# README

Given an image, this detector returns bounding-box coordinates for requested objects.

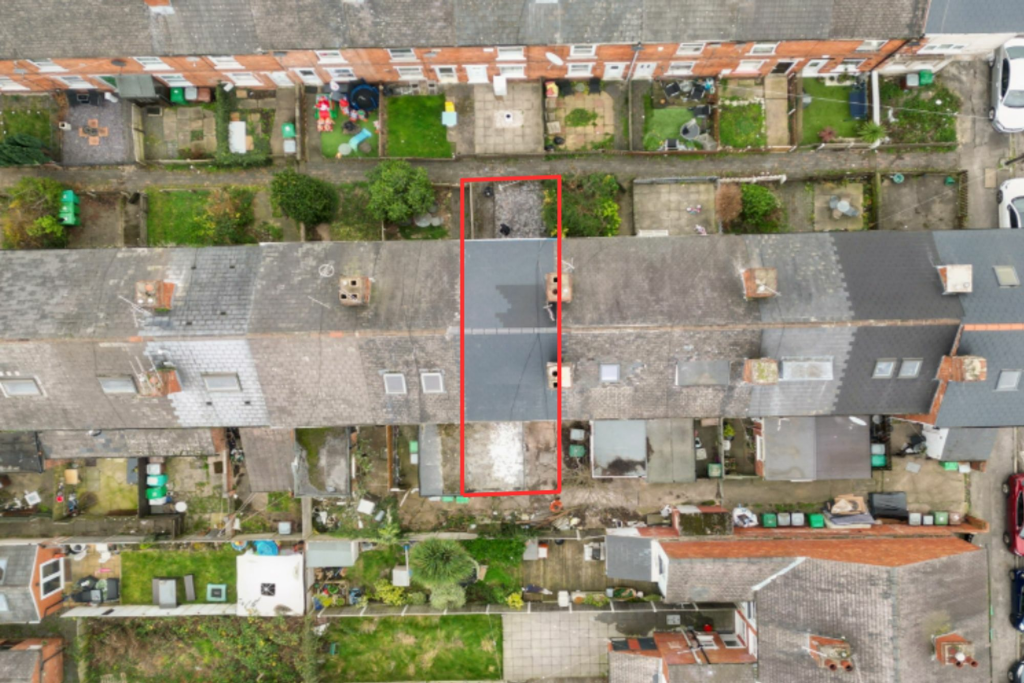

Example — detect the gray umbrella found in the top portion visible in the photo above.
[796,96,810,111]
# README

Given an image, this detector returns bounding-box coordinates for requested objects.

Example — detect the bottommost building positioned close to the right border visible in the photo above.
[652,535,989,683]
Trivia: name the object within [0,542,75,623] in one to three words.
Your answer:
house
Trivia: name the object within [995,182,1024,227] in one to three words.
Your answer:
car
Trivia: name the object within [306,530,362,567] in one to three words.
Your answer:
shed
